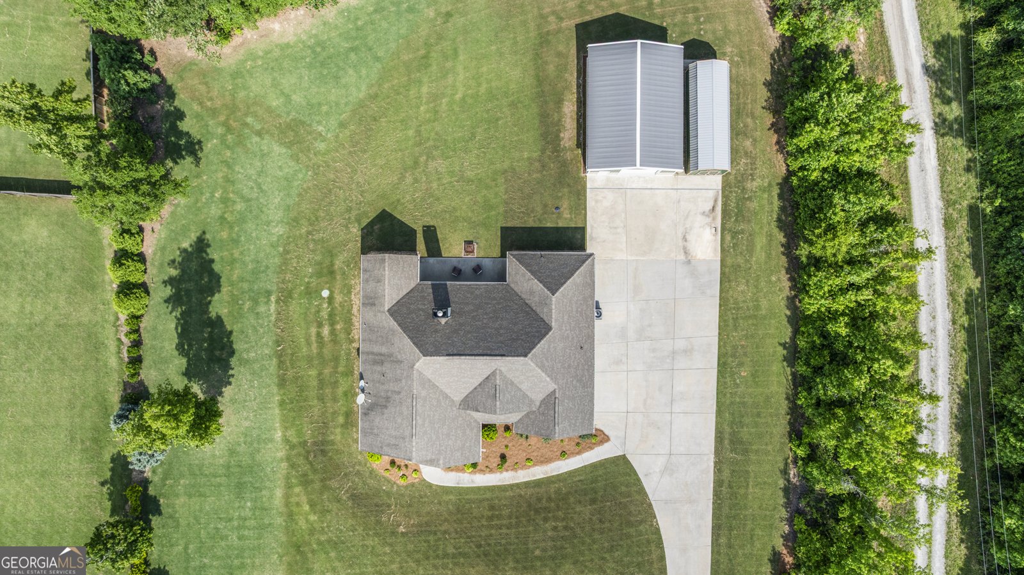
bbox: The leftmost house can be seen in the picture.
[360,251,595,466]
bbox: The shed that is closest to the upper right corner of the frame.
[685,59,730,174]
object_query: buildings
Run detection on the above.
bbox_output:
[585,38,684,174]
[685,59,730,174]
[360,251,595,466]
